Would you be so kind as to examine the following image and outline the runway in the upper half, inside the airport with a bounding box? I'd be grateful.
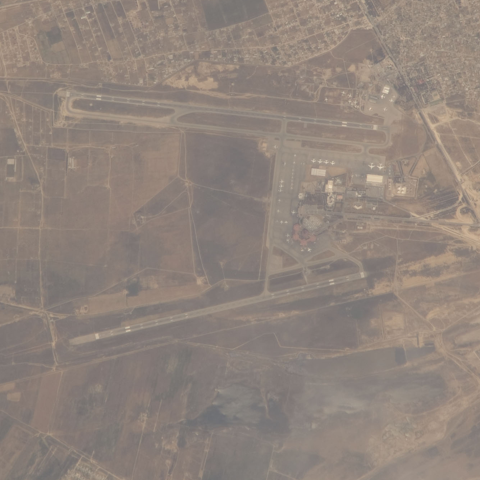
[58,90,388,132]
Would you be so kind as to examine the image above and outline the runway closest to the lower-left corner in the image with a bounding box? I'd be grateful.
[69,272,367,345]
